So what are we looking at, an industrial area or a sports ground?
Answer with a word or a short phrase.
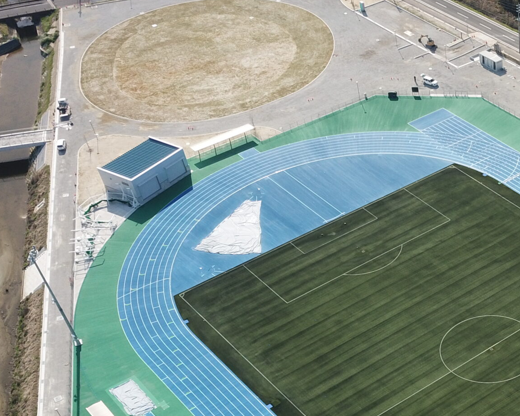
sports ground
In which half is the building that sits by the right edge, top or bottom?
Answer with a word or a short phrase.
top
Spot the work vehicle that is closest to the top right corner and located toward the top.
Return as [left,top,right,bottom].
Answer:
[422,25,437,46]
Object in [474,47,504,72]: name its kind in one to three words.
building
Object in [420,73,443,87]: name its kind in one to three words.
vehicle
